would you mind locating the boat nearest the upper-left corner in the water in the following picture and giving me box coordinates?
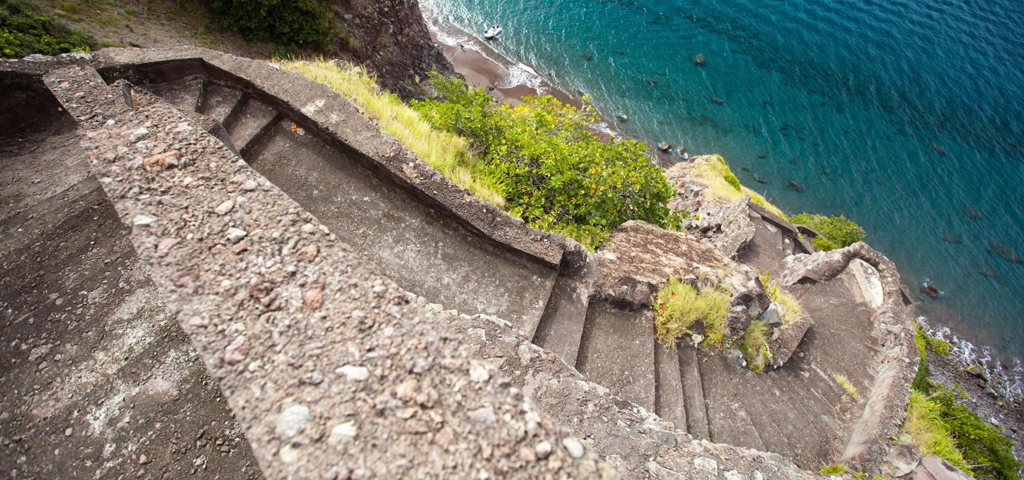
[482,25,502,38]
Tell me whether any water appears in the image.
Yes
